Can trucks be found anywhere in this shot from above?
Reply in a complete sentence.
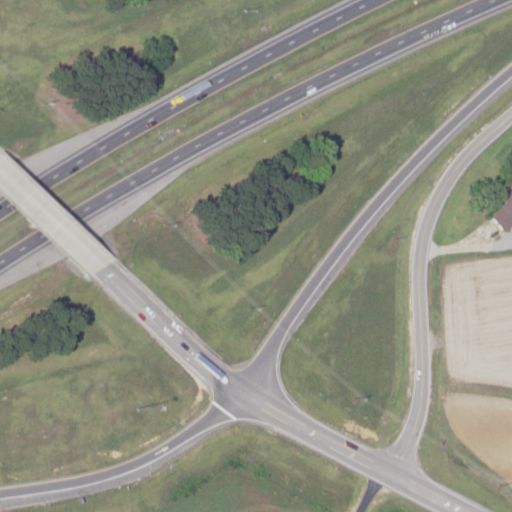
Yes, a truck is visible in the scene.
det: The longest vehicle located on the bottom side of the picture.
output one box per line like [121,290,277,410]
[196,350,230,384]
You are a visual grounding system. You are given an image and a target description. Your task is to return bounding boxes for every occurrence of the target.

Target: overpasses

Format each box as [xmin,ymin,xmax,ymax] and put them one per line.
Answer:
[0,146,116,280]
